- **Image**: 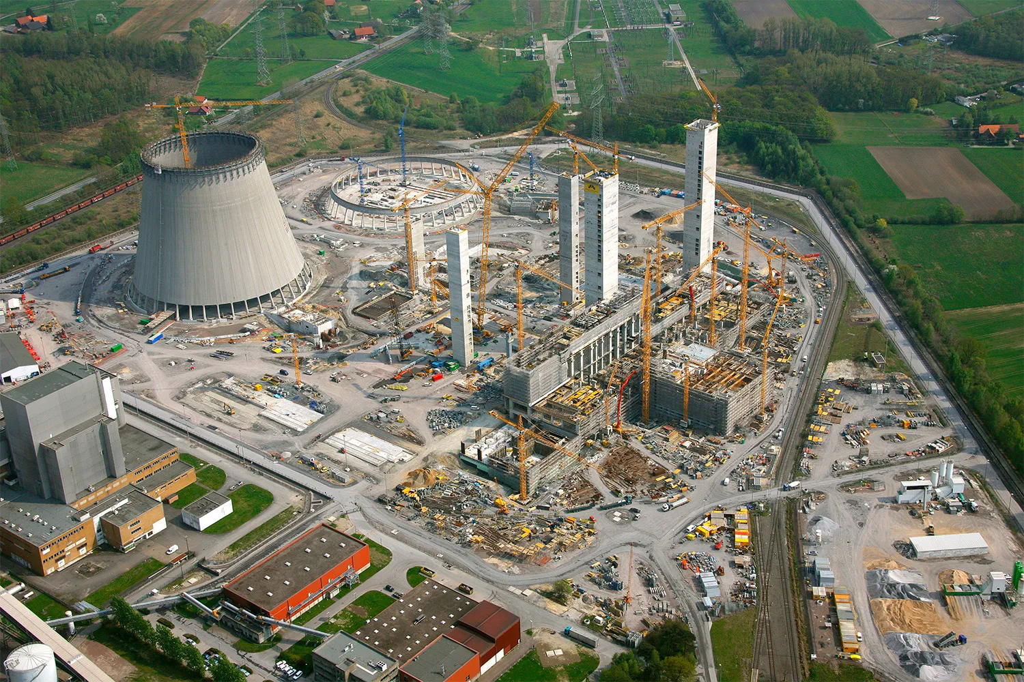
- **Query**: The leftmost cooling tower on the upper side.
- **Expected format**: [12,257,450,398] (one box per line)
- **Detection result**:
[124,127,314,327]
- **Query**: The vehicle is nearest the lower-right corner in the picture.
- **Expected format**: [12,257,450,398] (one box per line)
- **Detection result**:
[936,627,967,646]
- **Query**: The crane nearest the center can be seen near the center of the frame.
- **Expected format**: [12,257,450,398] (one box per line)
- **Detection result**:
[507,249,588,346]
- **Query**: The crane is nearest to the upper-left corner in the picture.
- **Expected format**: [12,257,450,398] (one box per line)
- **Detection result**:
[142,93,294,166]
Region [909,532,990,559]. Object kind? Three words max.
shed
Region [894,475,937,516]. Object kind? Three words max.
building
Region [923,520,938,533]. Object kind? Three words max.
vehicle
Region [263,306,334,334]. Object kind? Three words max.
building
